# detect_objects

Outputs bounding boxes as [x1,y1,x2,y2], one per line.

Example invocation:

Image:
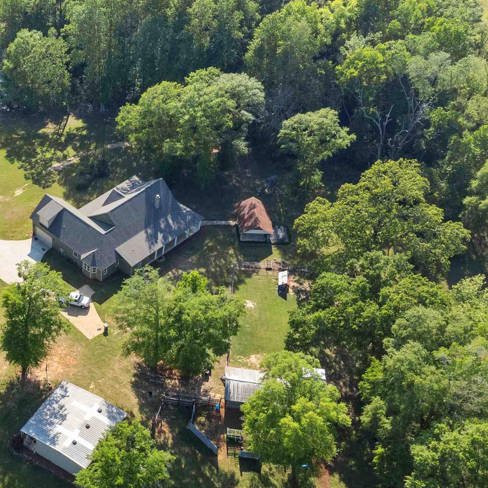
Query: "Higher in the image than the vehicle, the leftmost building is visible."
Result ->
[25,176,205,280]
